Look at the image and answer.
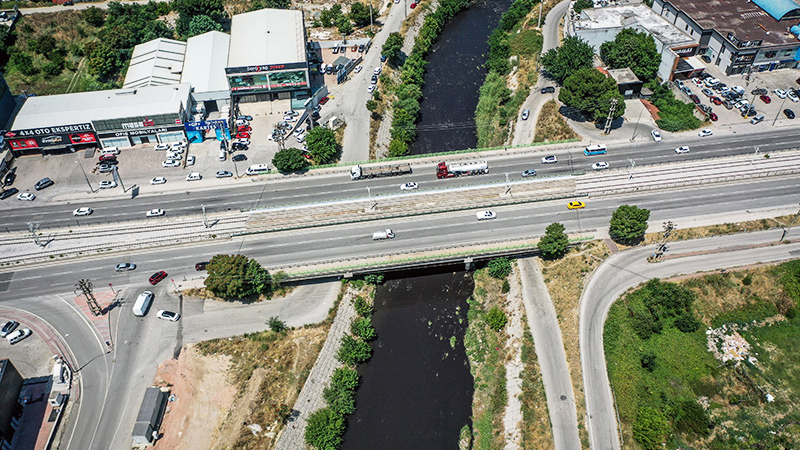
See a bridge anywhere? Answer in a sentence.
Yes, there is a bridge in the image.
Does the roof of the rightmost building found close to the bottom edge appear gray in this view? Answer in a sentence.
Yes, the roof of the rightmost building found close to the bottom edge appears gray.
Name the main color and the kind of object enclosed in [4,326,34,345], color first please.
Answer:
white vehicle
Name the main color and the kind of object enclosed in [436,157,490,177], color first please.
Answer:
white vehicle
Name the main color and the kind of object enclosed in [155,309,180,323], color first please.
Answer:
white car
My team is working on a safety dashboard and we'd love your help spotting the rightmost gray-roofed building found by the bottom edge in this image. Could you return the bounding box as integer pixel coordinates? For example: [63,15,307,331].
[131,386,168,444]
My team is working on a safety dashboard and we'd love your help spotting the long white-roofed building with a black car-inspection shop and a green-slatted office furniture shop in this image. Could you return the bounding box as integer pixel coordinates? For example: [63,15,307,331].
[0,80,192,159]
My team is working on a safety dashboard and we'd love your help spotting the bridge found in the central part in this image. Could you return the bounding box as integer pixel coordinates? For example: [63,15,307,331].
[252,139,601,288]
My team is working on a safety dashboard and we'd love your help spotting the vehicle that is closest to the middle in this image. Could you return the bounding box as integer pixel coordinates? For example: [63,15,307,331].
[371,223,395,240]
